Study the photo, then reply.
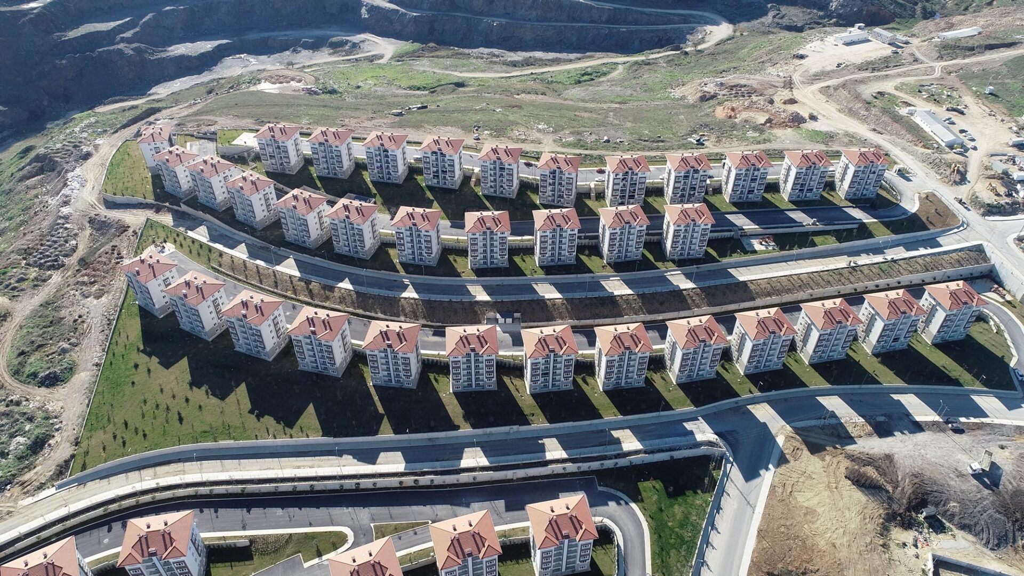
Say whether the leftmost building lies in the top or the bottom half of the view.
bottom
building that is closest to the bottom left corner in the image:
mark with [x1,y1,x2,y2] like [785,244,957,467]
[2,535,98,576]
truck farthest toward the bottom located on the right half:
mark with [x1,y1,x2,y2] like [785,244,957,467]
[965,455,1005,477]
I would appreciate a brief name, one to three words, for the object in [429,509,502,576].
building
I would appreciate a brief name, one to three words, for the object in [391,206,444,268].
building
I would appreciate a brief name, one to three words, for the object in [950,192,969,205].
vehicle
